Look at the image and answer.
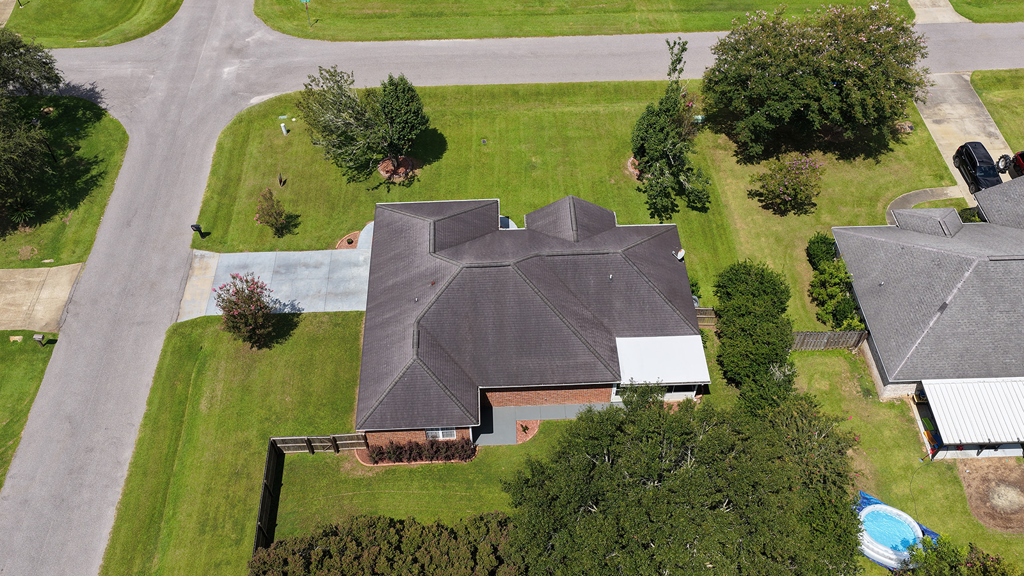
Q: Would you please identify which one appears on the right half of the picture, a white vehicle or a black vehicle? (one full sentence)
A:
There is a black vehicle on the right half of the picture.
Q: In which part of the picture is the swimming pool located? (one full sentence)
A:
Look in the bottom right portion of the view to spot the swimming pool.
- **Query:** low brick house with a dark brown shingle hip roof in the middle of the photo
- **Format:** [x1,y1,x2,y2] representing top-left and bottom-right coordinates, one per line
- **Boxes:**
[355,195,709,446]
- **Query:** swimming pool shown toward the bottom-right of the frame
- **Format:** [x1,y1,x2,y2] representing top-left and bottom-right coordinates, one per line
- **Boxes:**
[852,502,926,567]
